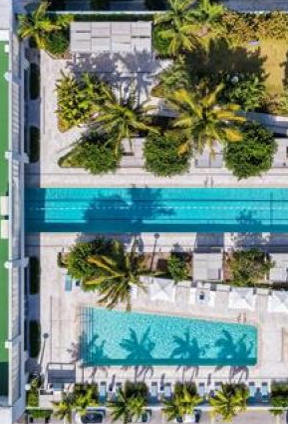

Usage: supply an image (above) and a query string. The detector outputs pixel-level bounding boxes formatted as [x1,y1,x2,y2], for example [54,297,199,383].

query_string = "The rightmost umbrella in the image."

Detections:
[269,290,288,314]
